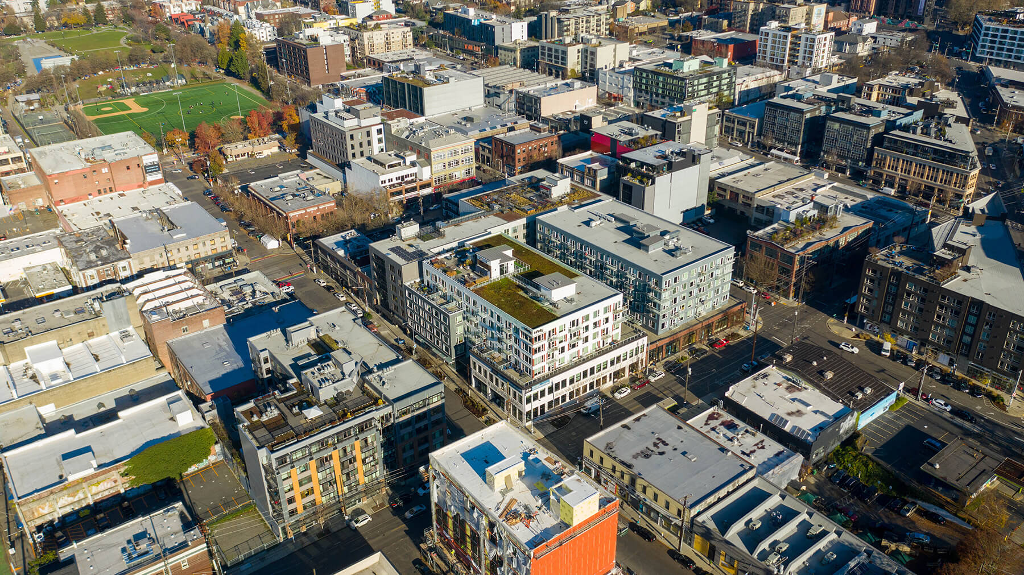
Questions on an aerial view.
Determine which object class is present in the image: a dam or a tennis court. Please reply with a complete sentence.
Of the two, only a tennis court appears.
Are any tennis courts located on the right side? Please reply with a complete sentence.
No, no tennis court can be made out on the right side.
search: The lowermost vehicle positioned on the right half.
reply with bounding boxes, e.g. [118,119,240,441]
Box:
[674,552,696,571]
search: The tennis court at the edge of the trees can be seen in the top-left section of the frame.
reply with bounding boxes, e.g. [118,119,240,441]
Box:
[21,108,78,147]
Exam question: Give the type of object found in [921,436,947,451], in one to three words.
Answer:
vehicle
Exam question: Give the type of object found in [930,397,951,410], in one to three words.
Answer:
vehicle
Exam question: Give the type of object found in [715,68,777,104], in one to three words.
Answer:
building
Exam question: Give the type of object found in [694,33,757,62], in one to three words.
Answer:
building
